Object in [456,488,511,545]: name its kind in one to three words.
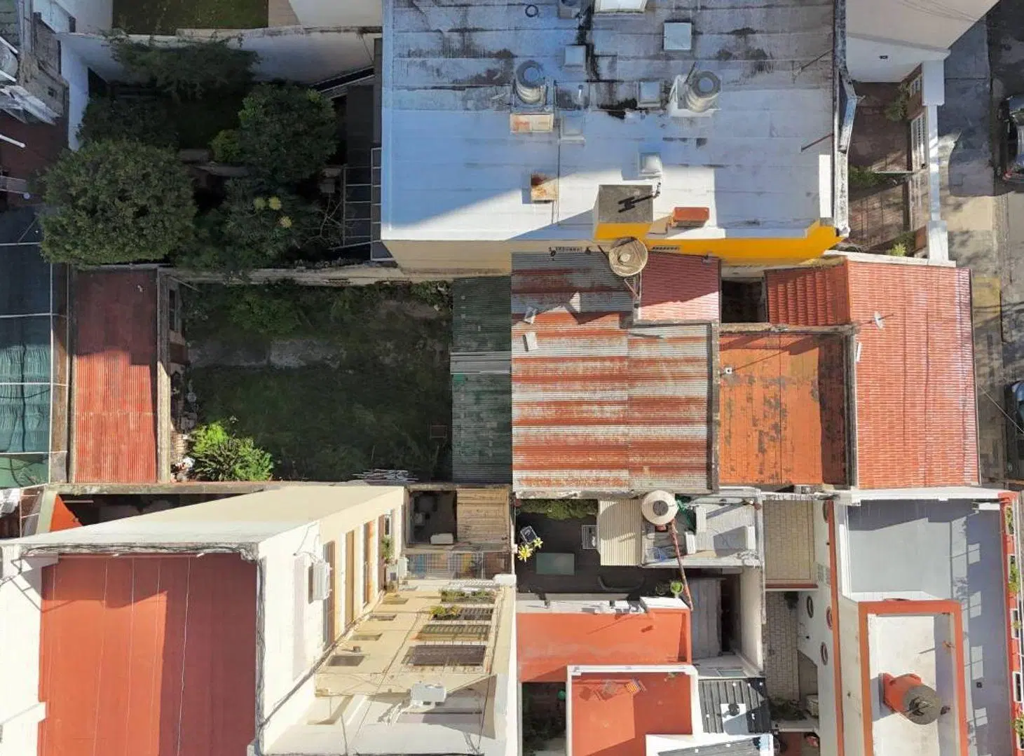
shed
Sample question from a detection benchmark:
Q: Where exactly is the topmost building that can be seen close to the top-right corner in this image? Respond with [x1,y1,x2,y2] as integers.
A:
[847,0,980,78]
